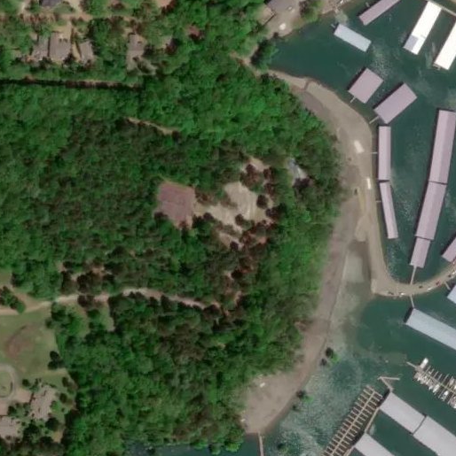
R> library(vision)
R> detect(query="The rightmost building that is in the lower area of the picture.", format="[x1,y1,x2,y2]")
[30,382,59,419]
